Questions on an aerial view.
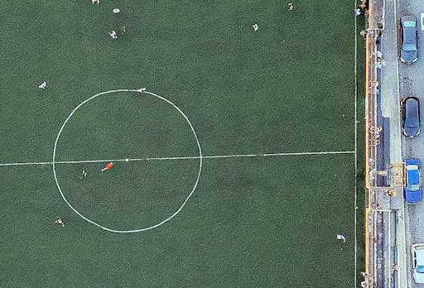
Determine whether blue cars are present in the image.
Yes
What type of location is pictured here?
sports ground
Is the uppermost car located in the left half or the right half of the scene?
right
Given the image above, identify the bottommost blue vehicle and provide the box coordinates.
[402,159,424,204]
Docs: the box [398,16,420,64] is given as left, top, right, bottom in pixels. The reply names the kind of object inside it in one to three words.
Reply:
car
